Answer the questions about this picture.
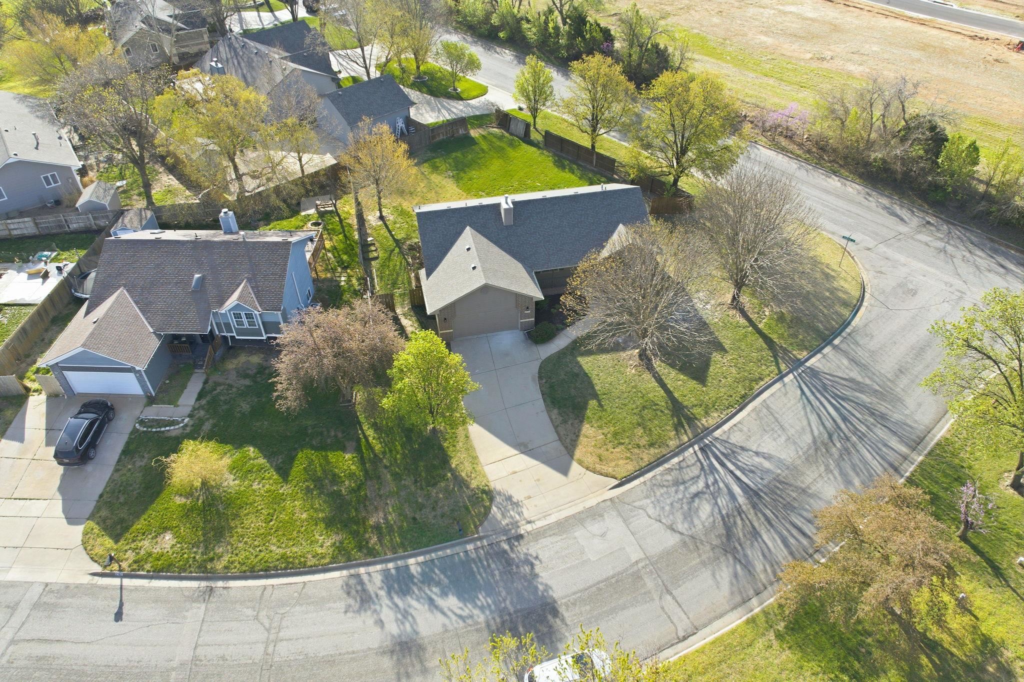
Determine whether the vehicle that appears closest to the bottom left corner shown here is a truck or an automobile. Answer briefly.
automobile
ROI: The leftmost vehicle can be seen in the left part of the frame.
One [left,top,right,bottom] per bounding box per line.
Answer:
[56,399,116,460]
